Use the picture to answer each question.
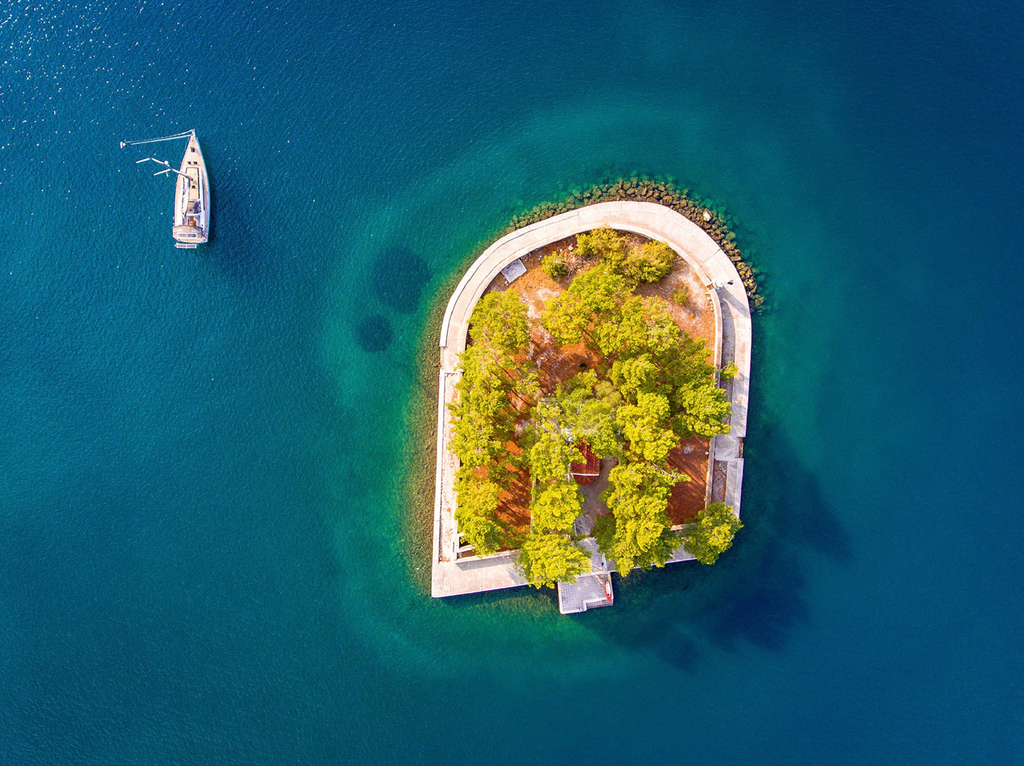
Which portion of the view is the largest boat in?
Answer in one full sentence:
The largest boat is in the top left part of the image.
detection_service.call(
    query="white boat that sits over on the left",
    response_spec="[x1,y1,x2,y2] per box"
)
[118,129,210,248]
